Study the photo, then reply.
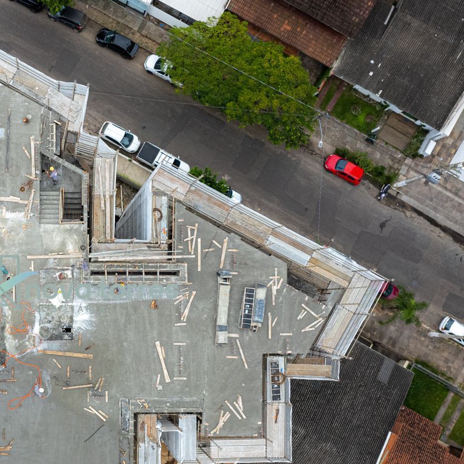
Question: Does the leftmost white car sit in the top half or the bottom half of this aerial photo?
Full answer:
The top half of the photo is where the leftmost white car is.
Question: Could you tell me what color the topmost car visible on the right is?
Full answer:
The color of the topmost car visible on the right is red.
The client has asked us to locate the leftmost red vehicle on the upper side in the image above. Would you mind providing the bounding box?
[324,152,370,186]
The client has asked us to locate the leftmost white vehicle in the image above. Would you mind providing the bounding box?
[96,117,142,153]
